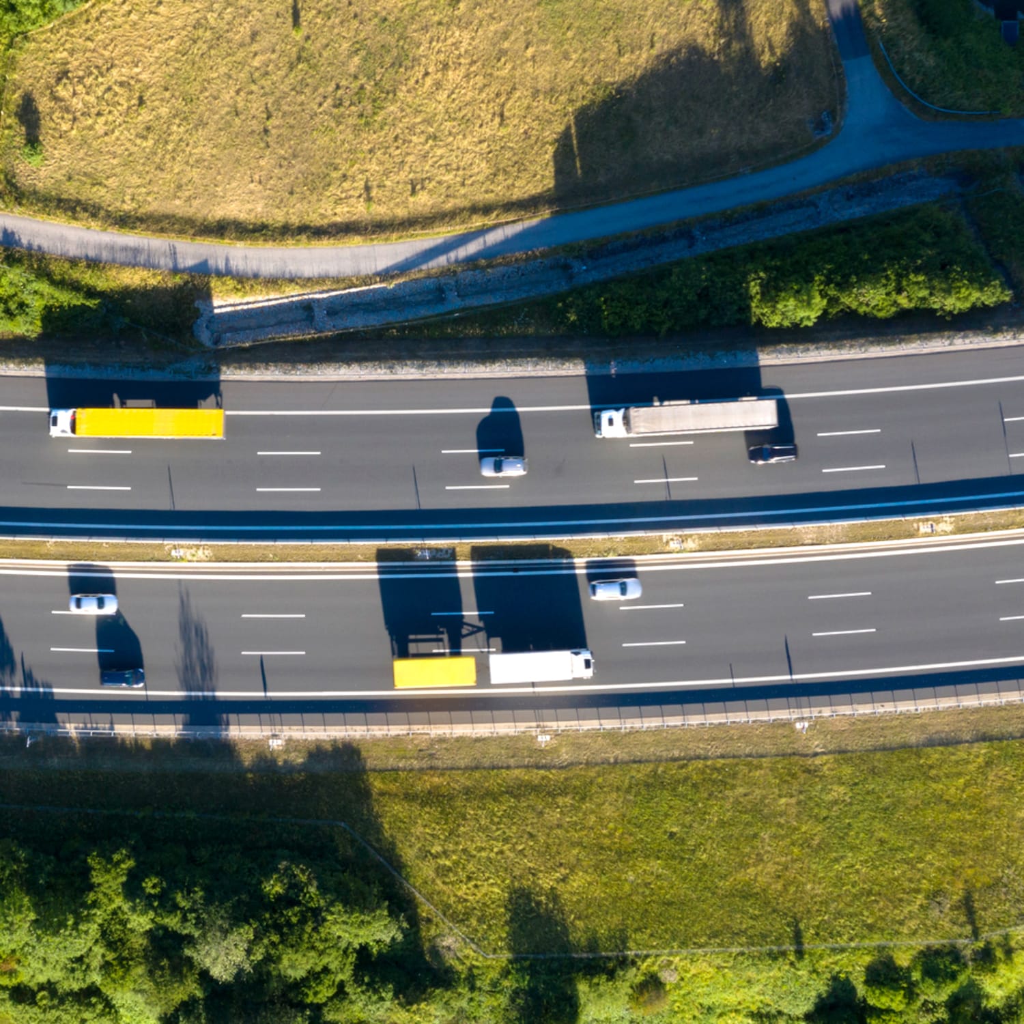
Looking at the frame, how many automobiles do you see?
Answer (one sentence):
Altogether the scene contains 5 automobiles.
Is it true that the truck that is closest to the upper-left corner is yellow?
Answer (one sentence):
Yes, the truck that is closest to the upper-left corner is indeed yellow.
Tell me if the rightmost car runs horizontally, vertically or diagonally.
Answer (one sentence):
The rightmost car runs horizontally in the image.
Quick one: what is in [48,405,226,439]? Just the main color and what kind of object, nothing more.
yellow truck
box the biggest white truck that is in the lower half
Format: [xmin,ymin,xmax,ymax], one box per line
[488,646,594,683]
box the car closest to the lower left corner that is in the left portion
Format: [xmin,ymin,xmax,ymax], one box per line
[100,667,145,690]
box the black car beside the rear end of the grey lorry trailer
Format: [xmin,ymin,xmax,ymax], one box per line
[747,442,798,465]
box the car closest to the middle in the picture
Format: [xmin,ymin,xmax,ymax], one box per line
[480,455,528,478]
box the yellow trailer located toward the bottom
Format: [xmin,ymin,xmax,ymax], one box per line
[393,653,489,687]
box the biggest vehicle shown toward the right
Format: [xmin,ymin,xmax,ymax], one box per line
[592,401,779,443]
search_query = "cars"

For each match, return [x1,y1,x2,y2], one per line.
[592,577,643,600]
[747,442,798,465]
[480,455,528,478]
[100,667,145,690]
[70,593,119,616]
